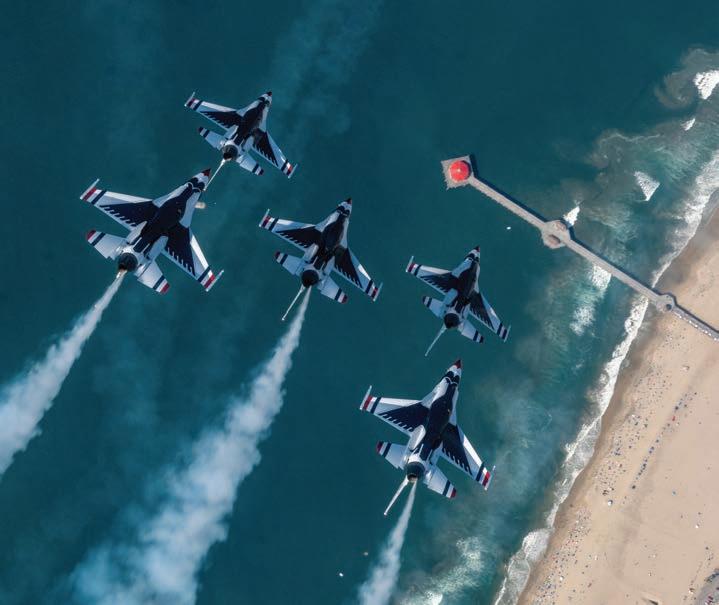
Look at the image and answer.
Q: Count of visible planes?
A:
5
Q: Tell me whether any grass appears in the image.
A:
No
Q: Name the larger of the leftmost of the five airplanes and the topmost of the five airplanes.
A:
the leftmost of the five airplanes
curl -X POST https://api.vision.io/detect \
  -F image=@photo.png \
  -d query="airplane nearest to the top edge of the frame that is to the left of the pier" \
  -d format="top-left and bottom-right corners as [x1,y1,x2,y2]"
[185,91,297,191]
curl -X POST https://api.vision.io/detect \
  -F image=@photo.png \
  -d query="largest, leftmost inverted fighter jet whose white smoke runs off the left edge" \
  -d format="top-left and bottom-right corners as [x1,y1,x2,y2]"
[80,168,222,307]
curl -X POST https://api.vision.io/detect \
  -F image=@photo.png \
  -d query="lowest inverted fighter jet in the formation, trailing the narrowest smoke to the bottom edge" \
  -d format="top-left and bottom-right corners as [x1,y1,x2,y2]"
[360,358,494,514]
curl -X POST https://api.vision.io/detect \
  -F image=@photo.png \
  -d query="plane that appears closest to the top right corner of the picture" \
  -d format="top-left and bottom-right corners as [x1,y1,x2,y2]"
[407,244,510,357]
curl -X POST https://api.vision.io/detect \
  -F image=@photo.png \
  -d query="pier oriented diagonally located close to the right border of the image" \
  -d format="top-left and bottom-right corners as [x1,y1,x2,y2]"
[441,156,719,345]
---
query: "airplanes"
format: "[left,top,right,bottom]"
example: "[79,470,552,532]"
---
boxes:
[407,244,510,357]
[260,196,381,320]
[80,168,222,307]
[360,358,494,514]
[185,91,297,191]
